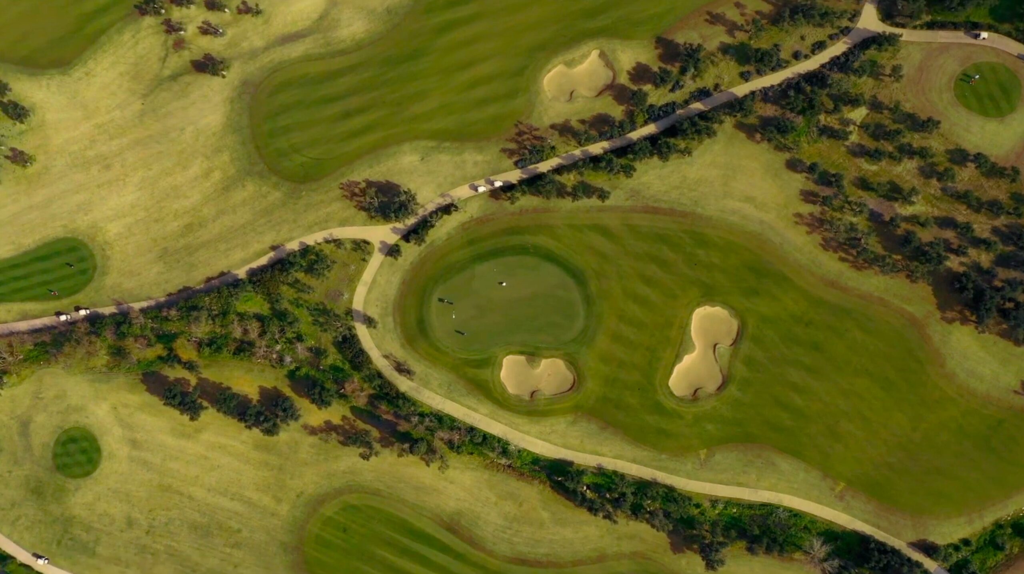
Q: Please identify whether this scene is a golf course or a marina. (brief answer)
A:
golf course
